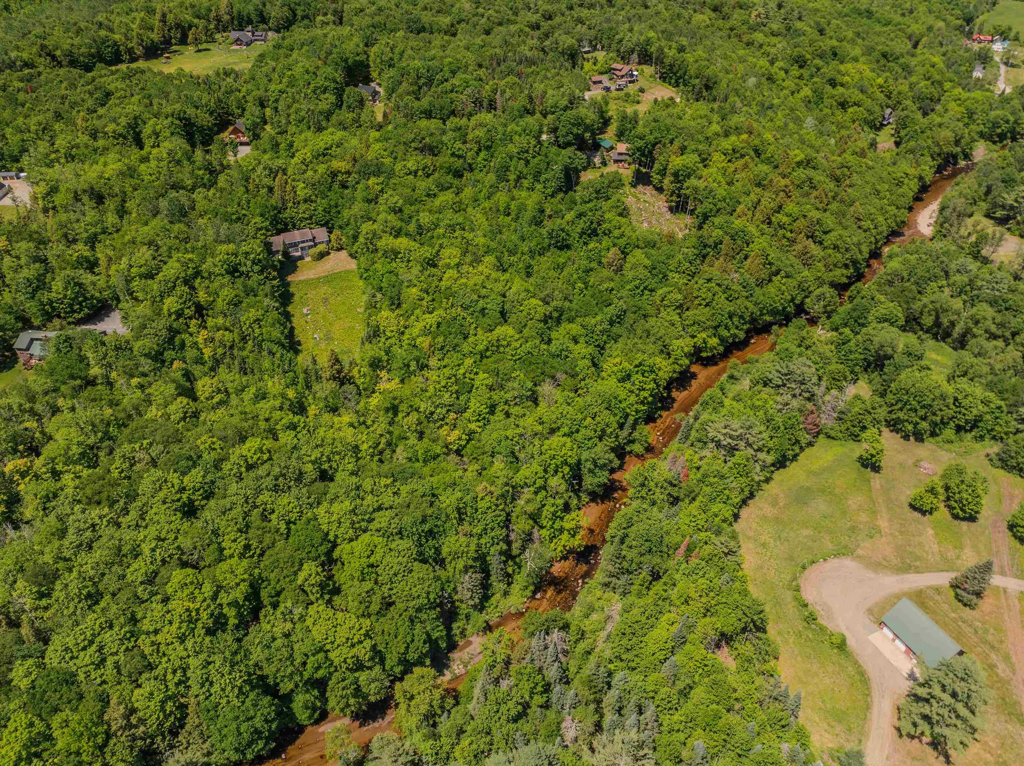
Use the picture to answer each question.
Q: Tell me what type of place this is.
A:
forest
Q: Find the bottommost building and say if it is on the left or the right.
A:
right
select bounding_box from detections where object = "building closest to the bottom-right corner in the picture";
[880,598,970,678]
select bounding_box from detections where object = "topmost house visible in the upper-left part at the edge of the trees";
[226,19,271,50]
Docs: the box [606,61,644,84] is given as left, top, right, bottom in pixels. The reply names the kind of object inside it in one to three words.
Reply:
house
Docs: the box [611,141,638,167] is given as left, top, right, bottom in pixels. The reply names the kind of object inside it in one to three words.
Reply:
building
